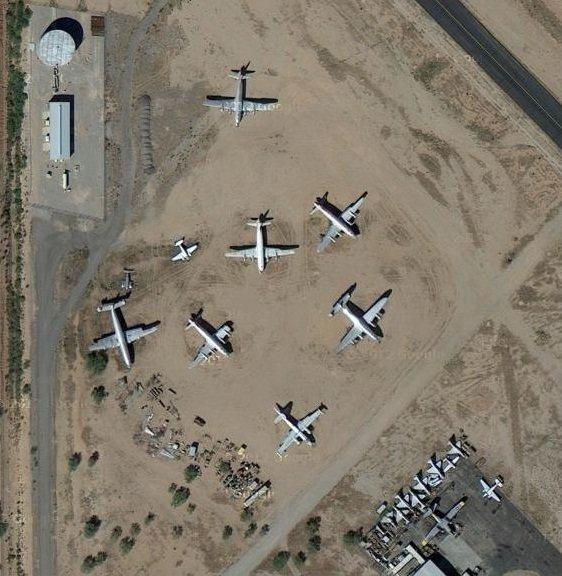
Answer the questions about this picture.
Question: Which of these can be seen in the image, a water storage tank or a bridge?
water storage tank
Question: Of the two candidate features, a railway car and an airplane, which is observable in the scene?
airplane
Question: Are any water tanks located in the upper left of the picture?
Yes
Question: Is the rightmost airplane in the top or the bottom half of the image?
bottom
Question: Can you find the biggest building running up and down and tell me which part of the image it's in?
top left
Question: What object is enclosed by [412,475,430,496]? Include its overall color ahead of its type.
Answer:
white airplane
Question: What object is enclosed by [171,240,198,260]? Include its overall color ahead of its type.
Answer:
white airplane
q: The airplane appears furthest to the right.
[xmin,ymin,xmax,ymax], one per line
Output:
[480,479,503,502]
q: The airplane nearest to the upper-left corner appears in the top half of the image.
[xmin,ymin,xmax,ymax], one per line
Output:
[200,72,278,126]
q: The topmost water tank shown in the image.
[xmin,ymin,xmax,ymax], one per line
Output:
[37,29,74,67]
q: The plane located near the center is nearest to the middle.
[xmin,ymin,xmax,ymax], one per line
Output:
[226,219,296,273]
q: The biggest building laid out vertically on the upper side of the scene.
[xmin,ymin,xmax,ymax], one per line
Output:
[48,102,69,159]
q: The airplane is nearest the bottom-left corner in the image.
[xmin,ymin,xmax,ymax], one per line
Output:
[86,299,156,367]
